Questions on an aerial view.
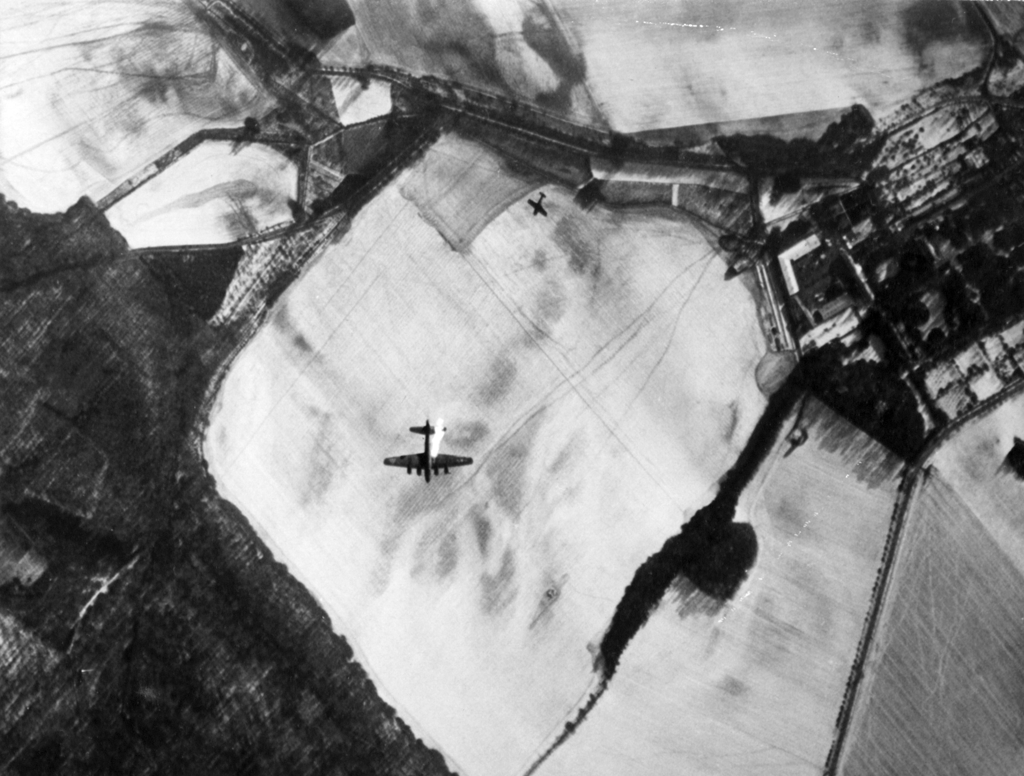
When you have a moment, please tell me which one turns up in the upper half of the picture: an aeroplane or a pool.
aeroplane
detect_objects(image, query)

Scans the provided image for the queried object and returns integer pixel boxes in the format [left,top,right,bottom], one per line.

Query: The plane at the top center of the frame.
[528,194,547,218]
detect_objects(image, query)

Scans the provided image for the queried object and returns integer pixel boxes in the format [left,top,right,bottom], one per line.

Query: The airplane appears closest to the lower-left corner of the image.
[383,420,473,483]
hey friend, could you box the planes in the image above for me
[528,194,547,218]
[383,420,473,483]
